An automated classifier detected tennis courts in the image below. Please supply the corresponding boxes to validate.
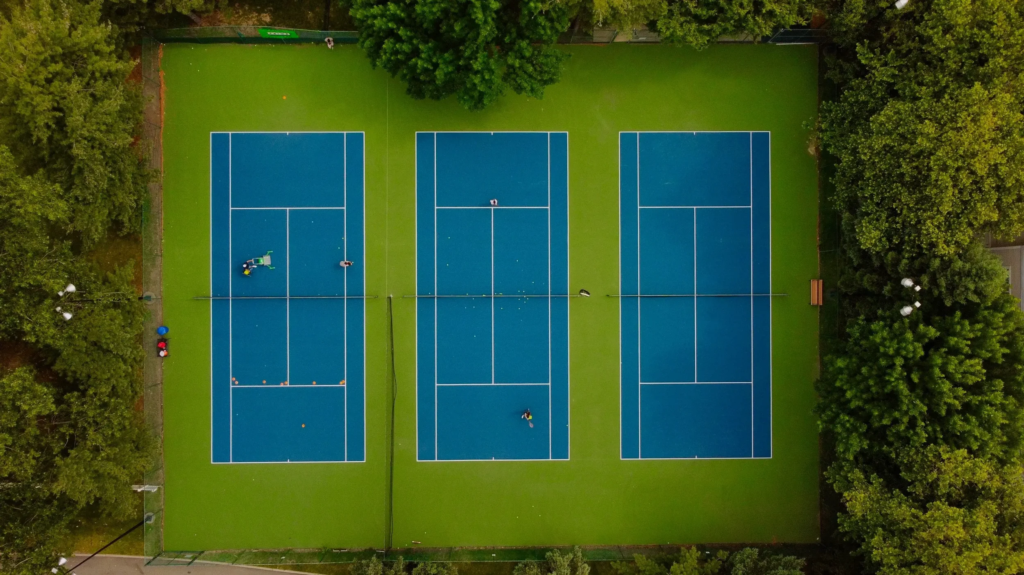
[620,132,771,458]
[212,133,365,462]
[417,133,568,460]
